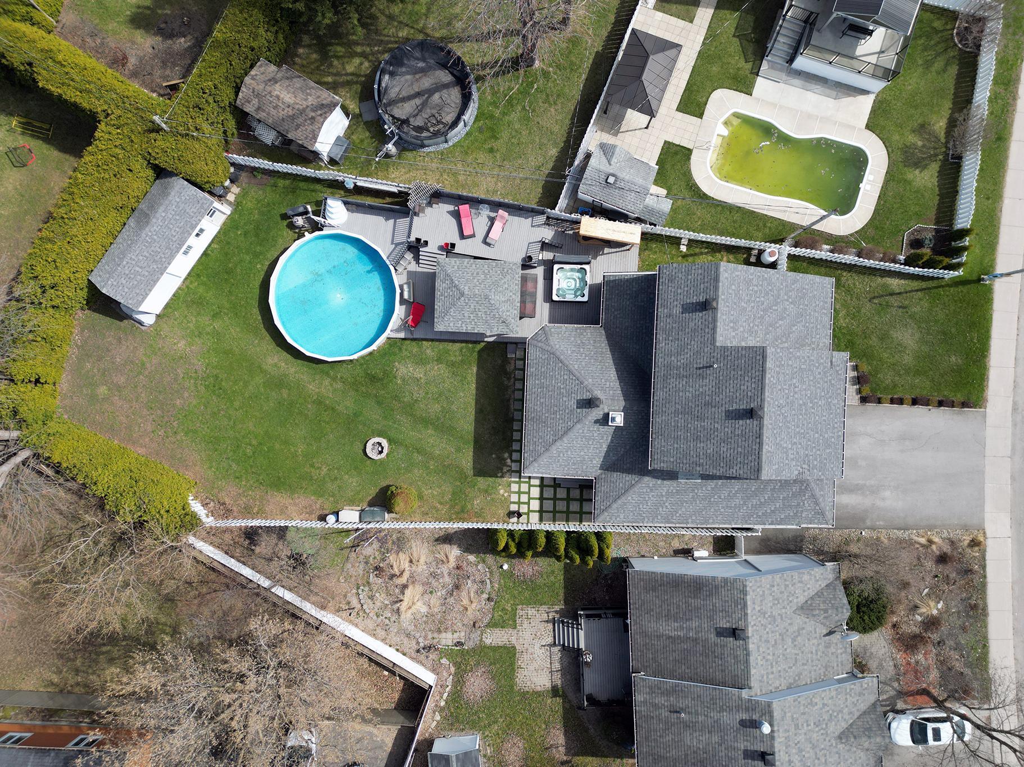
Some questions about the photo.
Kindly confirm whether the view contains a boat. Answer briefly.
No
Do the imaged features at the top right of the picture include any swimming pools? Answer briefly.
Yes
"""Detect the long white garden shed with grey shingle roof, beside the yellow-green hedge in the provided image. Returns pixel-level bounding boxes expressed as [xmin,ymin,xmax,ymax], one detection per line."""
[90,170,237,311]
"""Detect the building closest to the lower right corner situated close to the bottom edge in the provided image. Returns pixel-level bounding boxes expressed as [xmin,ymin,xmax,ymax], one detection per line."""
[624,556,892,767]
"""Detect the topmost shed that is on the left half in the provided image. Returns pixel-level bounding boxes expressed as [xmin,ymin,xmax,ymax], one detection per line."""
[236,58,349,160]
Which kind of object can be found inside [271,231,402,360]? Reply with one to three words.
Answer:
swimming pool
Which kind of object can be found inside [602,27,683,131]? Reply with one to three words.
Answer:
gazebo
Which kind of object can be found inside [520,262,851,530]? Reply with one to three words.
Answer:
house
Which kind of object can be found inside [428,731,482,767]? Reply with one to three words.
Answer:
shed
